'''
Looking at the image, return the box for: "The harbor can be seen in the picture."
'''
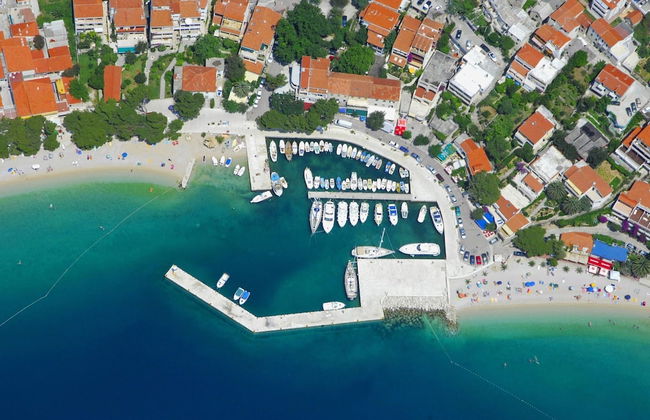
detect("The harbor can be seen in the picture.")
[209,130,490,323]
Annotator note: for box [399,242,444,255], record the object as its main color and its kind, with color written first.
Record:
white boat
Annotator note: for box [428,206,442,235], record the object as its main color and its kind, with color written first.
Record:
white boat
